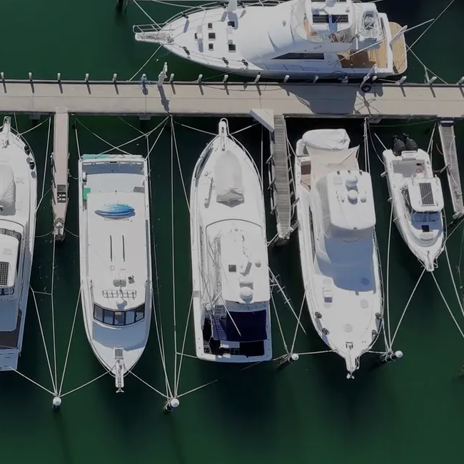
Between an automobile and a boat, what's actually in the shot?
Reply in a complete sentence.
This aerial view contains a boat.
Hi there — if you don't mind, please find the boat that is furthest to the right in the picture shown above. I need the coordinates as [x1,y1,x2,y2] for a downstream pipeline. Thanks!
[383,130,450,276]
